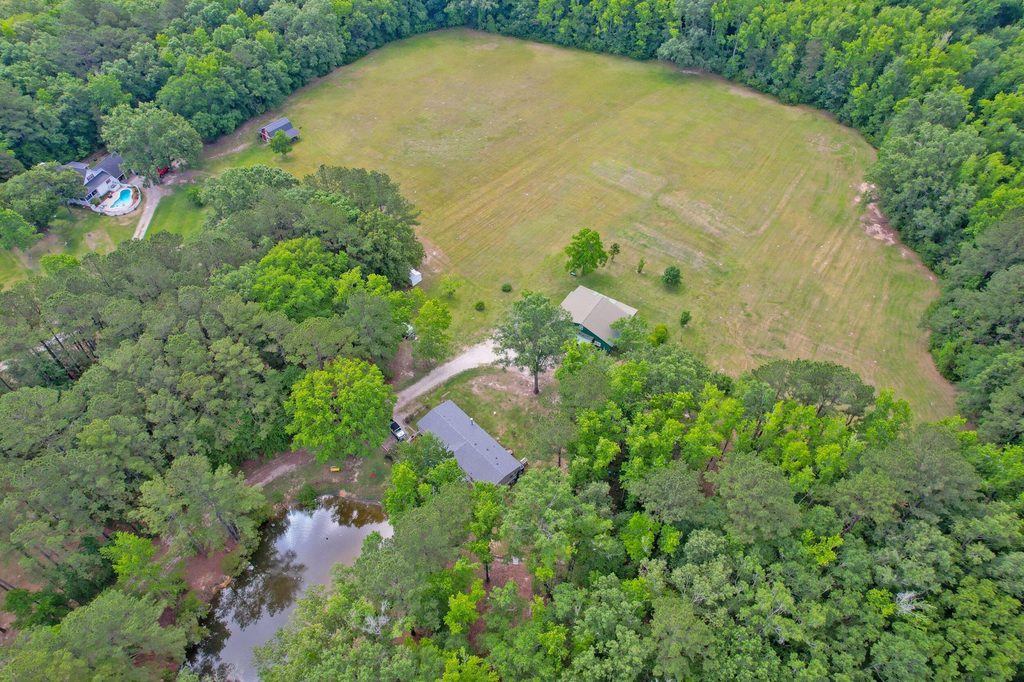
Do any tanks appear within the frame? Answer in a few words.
No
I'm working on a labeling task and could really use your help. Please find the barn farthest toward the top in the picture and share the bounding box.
[260,117,302,150]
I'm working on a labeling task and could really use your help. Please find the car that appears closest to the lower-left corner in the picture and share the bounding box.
[391,417,410,441]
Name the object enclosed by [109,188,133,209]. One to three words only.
swimming pool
